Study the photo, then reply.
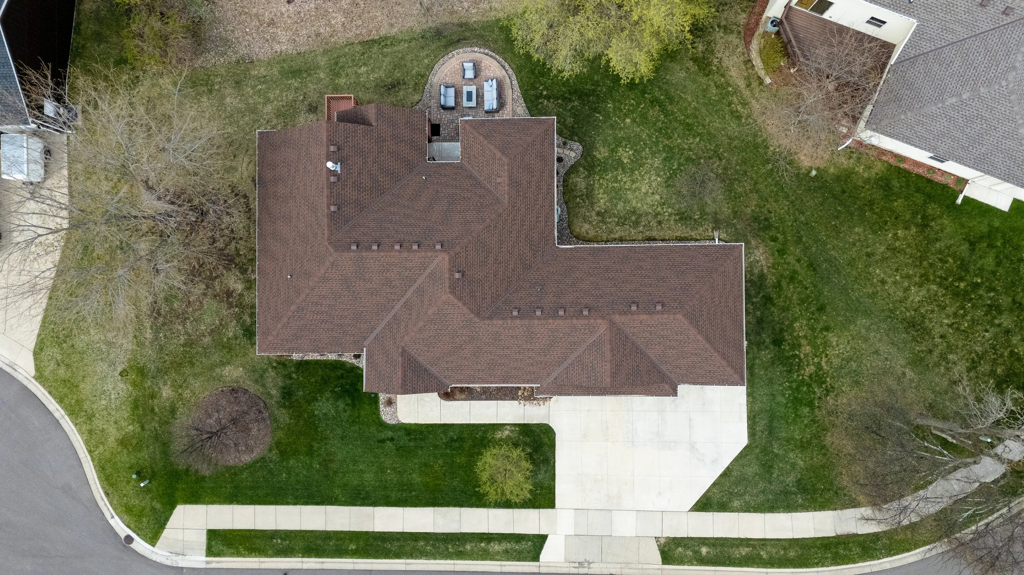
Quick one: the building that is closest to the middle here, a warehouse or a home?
home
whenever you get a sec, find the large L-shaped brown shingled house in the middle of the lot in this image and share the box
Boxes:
[255,106,747,399]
